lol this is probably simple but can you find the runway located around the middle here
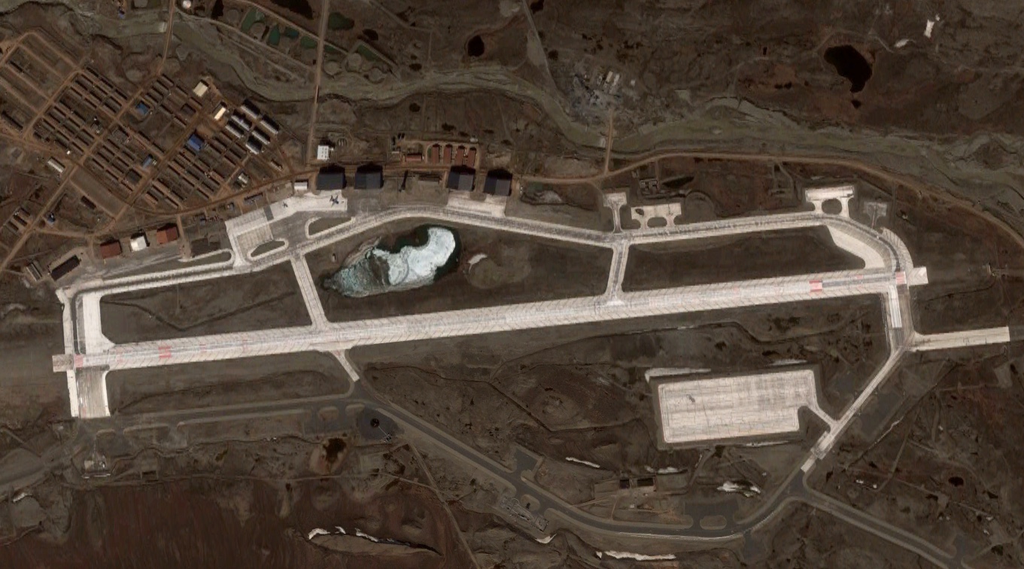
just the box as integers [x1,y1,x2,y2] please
[72,264,911,374]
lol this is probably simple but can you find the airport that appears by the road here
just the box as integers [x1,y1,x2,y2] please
[53,185,1010,569]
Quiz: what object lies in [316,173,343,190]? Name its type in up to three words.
hangar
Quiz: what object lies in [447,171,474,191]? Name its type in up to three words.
hangar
